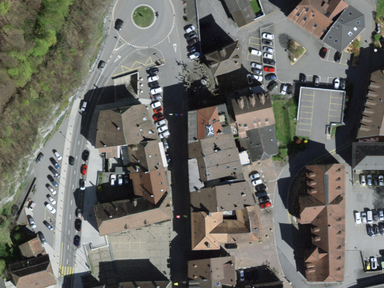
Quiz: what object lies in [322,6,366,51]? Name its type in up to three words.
house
